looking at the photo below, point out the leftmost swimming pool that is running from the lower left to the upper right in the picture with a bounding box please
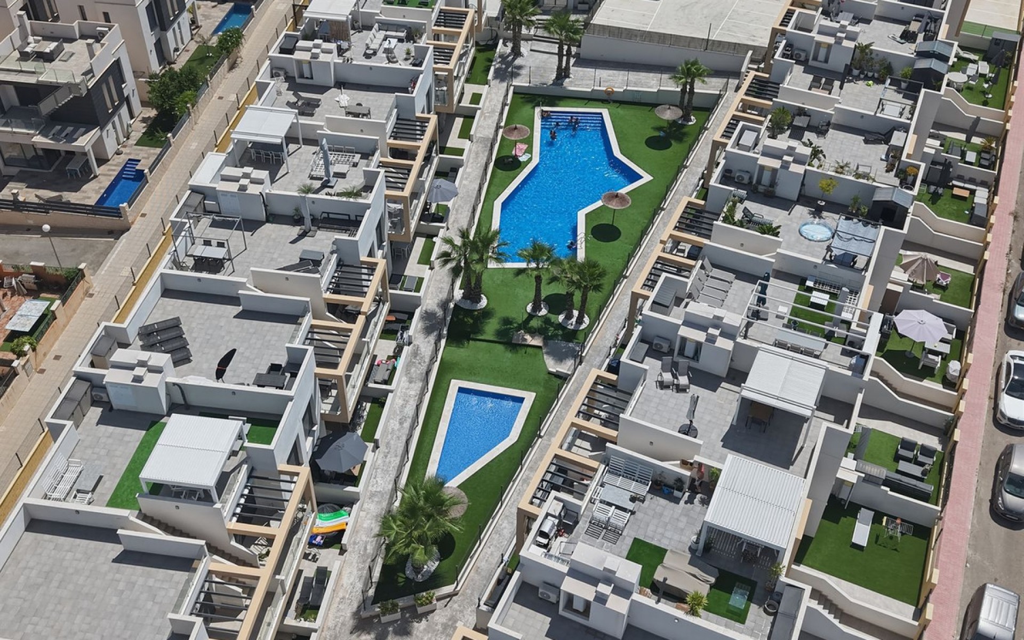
[94,159,151,208]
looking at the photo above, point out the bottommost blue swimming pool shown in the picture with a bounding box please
[427,379,535,489]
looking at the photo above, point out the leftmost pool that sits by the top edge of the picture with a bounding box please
[215,3,253,33]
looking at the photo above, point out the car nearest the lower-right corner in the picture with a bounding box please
[961,578,1017,640]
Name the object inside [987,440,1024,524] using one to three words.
car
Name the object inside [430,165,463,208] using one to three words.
umbrella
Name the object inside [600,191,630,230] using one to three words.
umbrella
